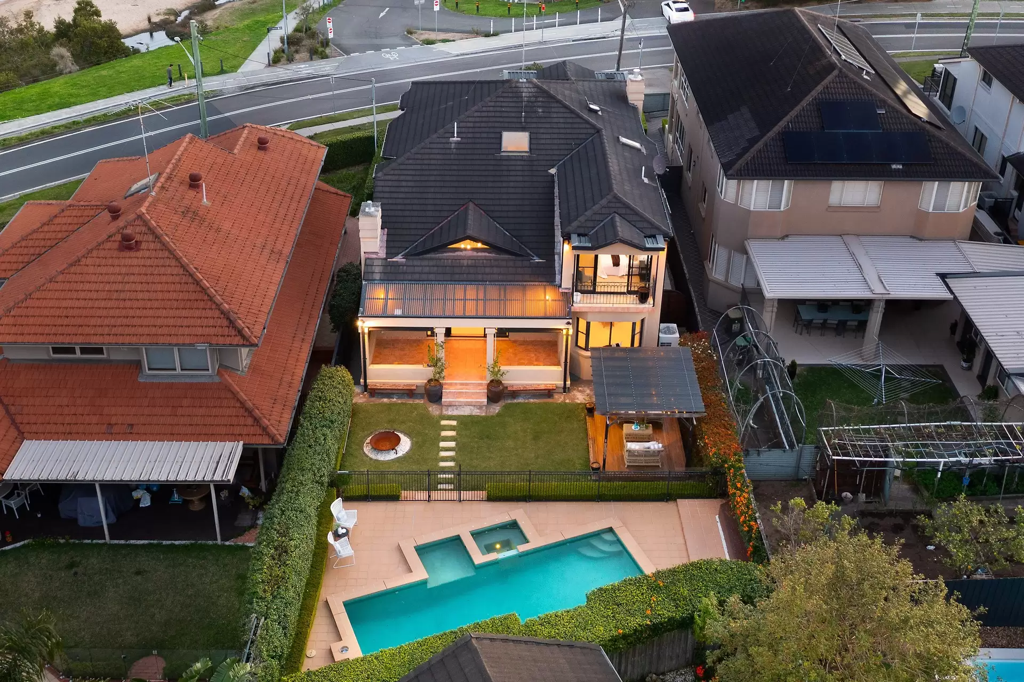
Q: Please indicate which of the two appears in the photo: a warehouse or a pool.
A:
pool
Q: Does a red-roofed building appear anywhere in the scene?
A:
Yes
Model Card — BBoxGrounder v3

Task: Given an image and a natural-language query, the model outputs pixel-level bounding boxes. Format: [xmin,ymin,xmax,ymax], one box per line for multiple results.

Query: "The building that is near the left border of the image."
[0,123,353,542]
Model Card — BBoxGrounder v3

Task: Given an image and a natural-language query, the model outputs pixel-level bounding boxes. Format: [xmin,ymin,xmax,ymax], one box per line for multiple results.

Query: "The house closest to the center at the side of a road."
[357,57,674,404]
